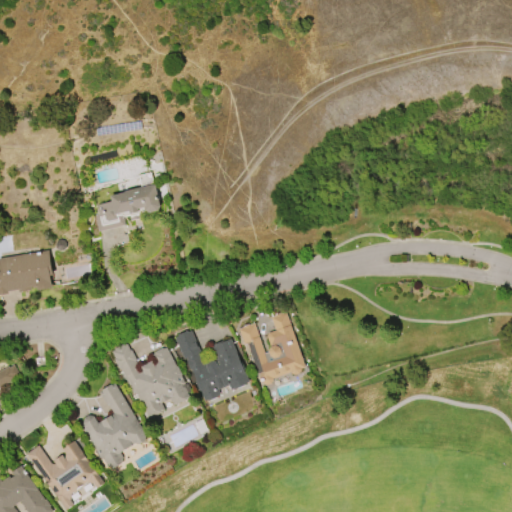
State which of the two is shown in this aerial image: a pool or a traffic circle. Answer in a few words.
pool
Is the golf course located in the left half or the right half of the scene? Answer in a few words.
right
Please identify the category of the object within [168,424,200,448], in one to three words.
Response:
swimming pool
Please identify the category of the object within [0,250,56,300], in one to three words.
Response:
house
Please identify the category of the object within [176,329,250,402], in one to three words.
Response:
house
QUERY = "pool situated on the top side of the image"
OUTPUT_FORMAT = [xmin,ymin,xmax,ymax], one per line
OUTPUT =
[96,168,120,184]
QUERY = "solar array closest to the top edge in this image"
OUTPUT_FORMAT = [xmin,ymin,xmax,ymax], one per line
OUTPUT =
[97,122,142,136]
